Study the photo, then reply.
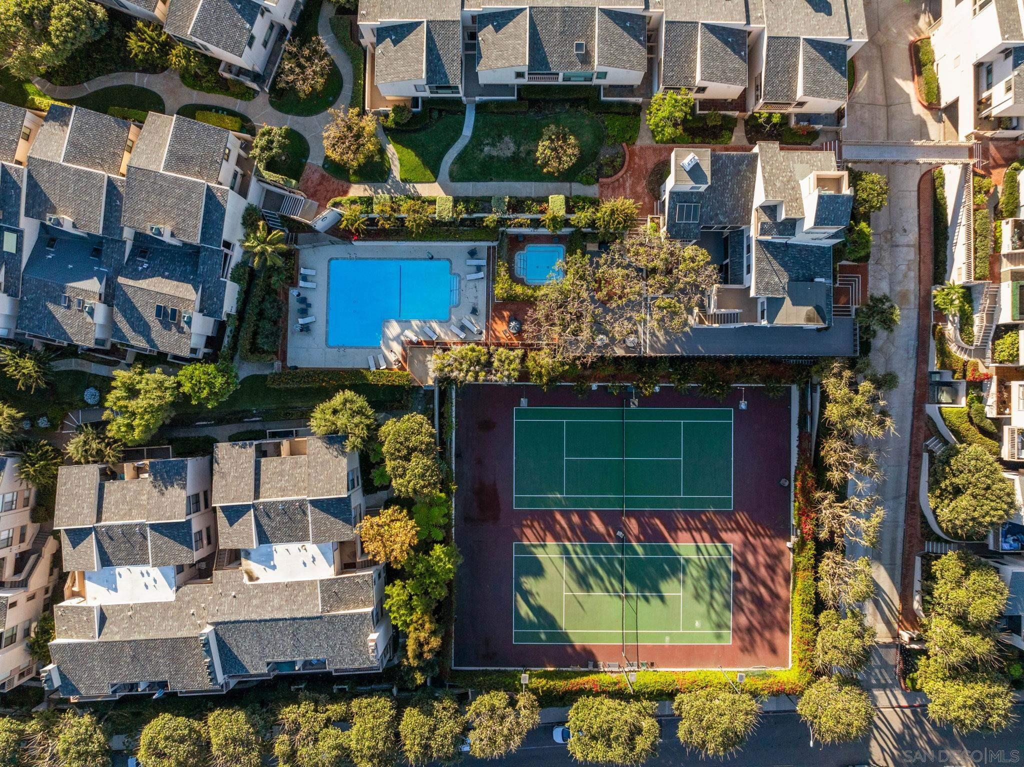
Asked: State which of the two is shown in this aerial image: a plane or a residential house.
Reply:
residential house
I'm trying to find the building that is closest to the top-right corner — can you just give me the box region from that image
[926,0,1024,140]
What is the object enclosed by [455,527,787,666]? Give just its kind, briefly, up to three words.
tennis court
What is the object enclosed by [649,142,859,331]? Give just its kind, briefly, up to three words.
building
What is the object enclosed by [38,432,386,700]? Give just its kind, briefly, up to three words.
house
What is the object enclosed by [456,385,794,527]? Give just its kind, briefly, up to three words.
tennis court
